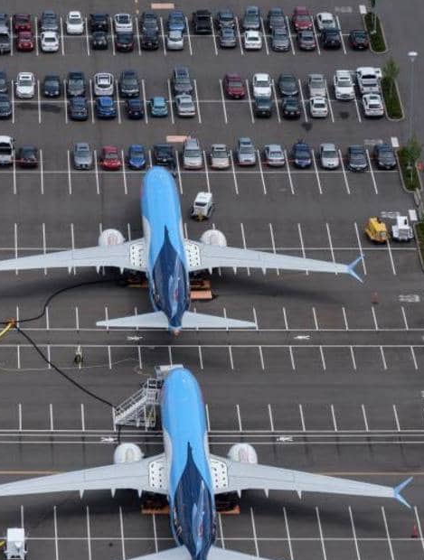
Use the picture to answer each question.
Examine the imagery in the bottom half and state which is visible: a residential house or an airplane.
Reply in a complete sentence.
What appears in the bottom half is an airplane.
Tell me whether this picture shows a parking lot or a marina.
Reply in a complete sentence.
It's a parking lot.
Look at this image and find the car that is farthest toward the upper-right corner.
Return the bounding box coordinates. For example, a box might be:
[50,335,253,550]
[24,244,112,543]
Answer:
[348,25,370,51]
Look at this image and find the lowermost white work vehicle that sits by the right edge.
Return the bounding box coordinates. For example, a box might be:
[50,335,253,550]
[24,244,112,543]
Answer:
[389,214,413,242]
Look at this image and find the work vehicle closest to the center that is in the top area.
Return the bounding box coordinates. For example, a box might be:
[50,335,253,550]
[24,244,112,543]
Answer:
[190,191,214,222]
